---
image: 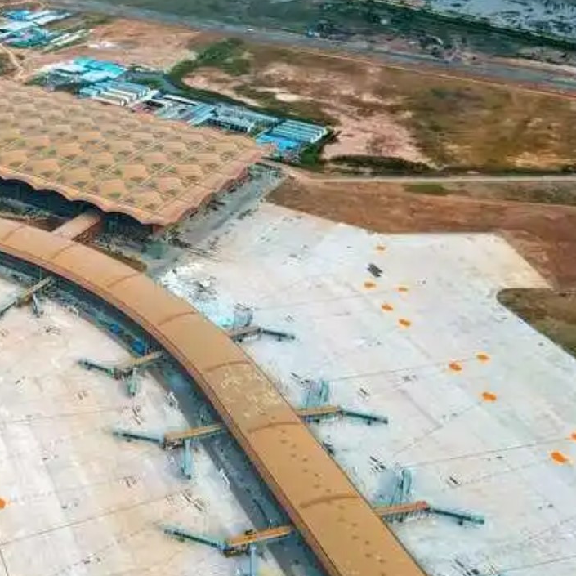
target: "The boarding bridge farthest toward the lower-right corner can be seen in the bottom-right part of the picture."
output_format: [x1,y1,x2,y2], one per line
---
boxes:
[373,470,486,530]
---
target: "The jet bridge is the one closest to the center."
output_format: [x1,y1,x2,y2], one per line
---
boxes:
[227,312,294,345]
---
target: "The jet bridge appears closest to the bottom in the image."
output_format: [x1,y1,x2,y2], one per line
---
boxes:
[163,525,302,576]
